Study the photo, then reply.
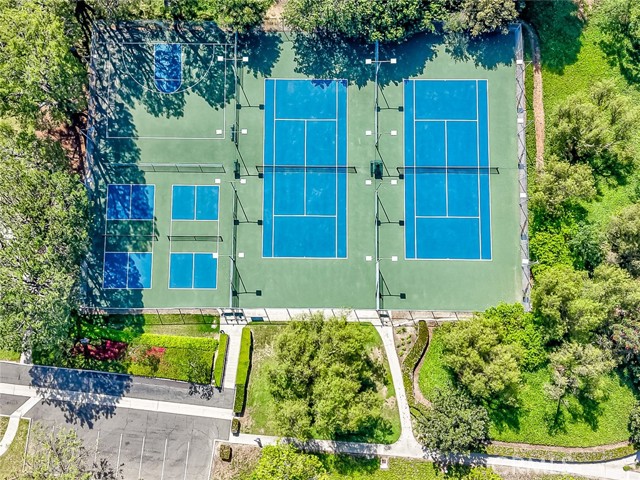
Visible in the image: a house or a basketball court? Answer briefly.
basketball court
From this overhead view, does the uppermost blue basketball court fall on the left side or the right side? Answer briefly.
left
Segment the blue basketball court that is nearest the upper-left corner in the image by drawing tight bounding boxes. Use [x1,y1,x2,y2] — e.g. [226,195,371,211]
[105,43,236,138]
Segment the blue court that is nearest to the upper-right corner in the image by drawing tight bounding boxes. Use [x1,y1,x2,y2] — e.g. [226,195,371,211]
[403,79,491,259]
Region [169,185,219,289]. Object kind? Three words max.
sports court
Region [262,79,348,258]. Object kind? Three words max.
tennis court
